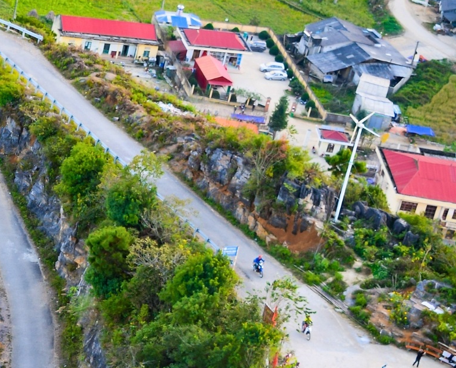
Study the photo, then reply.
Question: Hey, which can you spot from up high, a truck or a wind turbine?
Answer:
wind turbine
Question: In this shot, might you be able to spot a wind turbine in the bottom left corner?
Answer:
No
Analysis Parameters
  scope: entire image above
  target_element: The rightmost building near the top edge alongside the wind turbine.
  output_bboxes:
[302,18,411,91]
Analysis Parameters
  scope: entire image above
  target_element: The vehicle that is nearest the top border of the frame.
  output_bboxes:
[249,38,272,51]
